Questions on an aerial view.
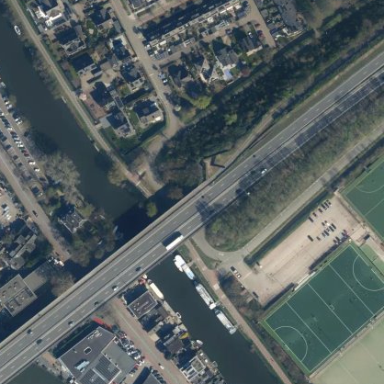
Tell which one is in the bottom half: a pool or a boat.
boat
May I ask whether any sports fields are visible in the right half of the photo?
Yes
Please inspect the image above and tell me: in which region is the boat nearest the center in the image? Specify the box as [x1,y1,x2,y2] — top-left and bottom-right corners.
[172,254,195,282]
